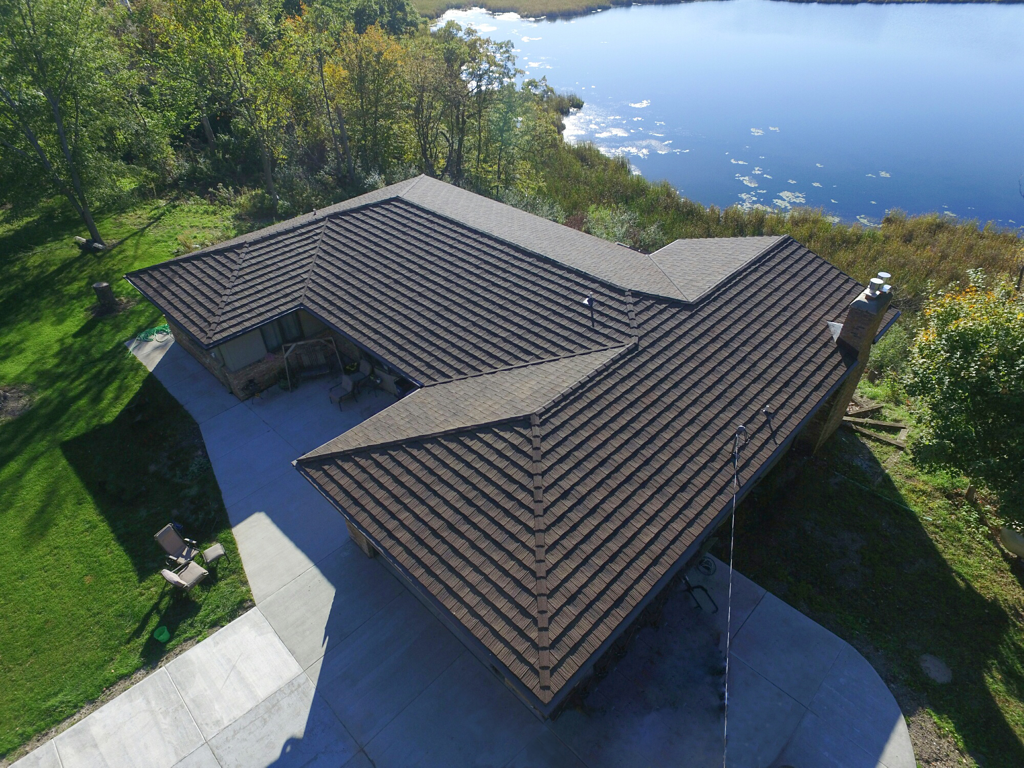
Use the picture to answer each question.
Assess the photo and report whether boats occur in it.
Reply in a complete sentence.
No, there isn't any boat down there.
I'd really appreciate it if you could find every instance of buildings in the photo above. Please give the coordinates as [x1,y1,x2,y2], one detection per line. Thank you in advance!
[124,173,904,727]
